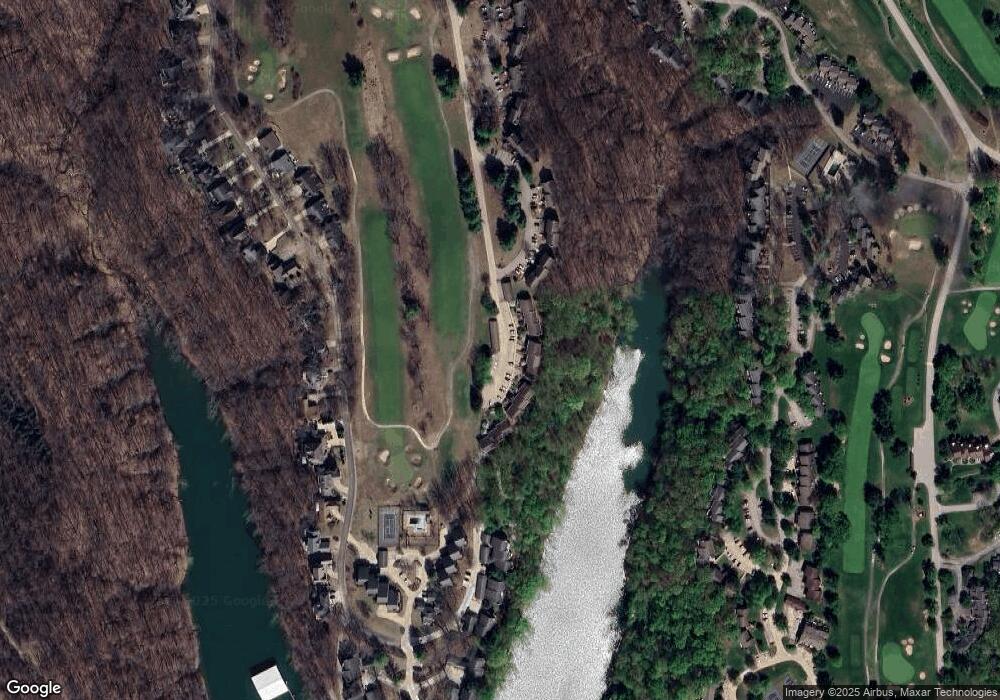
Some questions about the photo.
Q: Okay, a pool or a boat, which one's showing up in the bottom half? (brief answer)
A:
pool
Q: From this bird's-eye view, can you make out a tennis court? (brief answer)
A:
Yes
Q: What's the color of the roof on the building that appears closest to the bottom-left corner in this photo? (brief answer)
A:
white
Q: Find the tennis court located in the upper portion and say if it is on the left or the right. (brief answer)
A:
right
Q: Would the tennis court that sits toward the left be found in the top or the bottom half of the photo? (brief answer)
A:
bottom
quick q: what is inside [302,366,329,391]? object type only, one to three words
house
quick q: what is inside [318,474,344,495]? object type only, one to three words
house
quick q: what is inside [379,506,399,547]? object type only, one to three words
tennis court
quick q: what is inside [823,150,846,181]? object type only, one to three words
swimming pool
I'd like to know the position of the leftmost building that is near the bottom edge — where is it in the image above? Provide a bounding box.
[252,665,291,700]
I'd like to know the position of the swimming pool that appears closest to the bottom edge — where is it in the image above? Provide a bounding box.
[402,507,440,547]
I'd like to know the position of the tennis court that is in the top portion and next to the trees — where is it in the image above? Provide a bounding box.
[793,136,829,176]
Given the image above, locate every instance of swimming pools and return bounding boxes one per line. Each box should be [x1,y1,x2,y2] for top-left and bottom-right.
[402,507,440,547]
[823,150,846,181]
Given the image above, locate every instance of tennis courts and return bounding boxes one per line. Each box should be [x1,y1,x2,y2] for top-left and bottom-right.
[793,136,829,176]
[379,506,399,547]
